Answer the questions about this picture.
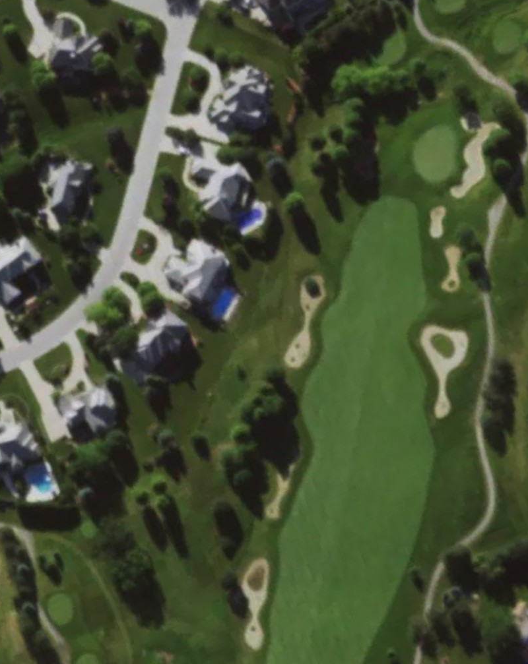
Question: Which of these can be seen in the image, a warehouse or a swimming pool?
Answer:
swimming pool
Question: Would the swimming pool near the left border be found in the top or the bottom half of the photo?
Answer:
bottom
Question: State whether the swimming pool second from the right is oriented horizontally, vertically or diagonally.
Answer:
diagonally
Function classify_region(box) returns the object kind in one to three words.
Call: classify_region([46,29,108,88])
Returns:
house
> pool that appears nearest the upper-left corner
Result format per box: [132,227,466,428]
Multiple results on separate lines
[237,208,263,227]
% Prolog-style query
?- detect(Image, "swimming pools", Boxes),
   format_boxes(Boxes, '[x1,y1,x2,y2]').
[26,463,52,493]
[210,288,237,319]
[237,208,263,227]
